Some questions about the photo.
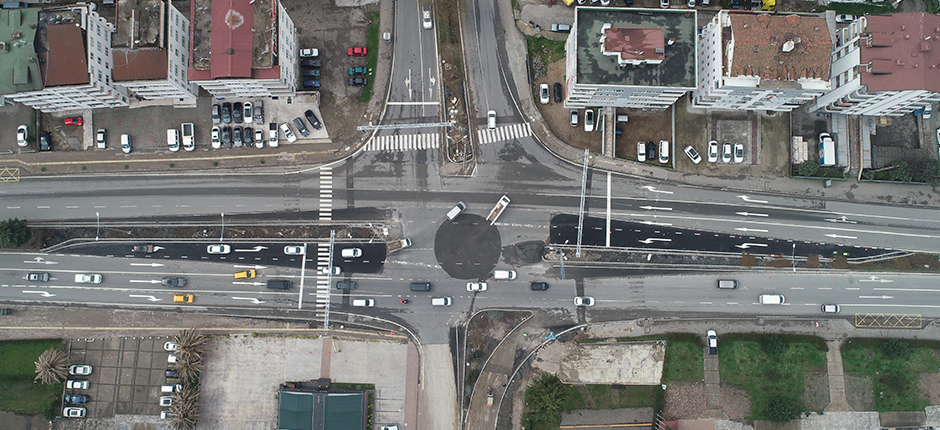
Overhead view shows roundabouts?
Yes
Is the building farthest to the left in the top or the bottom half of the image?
top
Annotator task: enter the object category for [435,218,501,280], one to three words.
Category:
roundabout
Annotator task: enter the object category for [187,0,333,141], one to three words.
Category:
building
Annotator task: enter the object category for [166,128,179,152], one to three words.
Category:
vehicle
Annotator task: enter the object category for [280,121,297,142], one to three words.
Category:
car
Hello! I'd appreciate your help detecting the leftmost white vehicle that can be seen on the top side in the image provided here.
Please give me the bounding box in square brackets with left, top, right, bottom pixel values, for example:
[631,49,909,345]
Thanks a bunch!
[17,125,29,146]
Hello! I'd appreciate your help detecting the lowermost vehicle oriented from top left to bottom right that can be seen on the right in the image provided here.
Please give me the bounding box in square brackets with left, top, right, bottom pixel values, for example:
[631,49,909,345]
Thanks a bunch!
[683,145,701,164]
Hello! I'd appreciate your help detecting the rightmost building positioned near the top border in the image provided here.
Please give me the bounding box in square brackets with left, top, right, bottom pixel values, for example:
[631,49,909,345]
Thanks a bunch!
[811,12,940,118]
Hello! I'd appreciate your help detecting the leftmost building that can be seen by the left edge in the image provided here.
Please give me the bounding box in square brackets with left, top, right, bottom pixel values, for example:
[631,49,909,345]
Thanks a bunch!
[0,2,129,118]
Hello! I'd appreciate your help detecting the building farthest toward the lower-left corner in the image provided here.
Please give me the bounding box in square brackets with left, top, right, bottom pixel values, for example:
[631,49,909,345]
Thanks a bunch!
[278,375,368,430]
